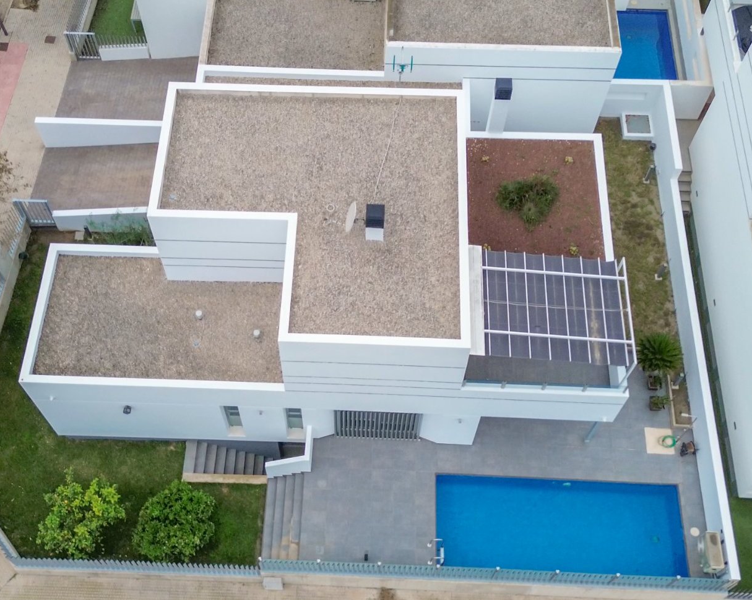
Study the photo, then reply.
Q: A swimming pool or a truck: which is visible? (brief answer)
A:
swimming pool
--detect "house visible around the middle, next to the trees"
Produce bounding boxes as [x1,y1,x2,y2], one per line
[19,66,639,460]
